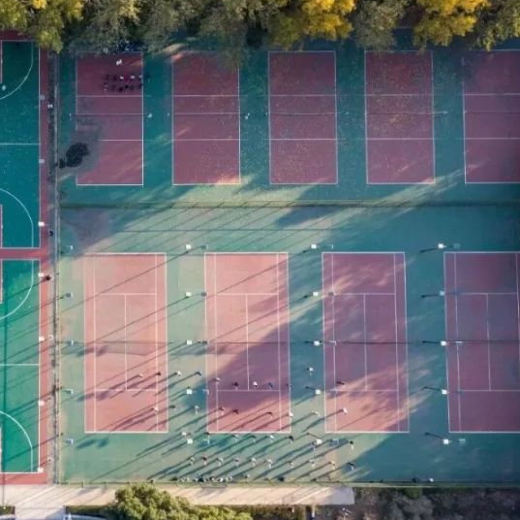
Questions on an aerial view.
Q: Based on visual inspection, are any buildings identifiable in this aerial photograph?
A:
No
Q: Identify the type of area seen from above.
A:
sports ground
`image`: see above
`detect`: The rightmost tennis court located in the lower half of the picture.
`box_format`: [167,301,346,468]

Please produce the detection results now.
[445,251,520,432]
